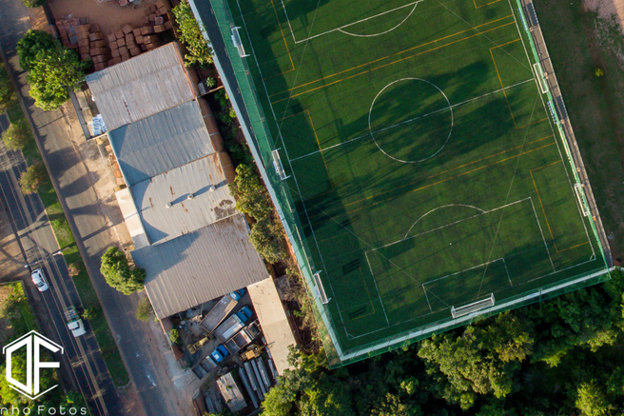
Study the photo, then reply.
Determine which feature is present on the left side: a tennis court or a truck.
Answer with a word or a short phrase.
truck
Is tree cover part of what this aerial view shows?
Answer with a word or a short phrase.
Yes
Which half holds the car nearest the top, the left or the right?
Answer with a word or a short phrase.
left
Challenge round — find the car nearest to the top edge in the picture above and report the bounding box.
[30,265,51,296]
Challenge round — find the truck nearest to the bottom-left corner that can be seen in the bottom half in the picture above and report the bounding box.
[65,303,88,339]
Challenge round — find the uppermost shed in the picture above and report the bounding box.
[85,43,203,132]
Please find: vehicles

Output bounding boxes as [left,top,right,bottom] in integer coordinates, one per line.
[30,265,51,296]
[196,287,251,339]
[65,303,88,339]
[189,342,233,386]
[225,319,264,364]
[212,302,257,347]
[240,340,270,366]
